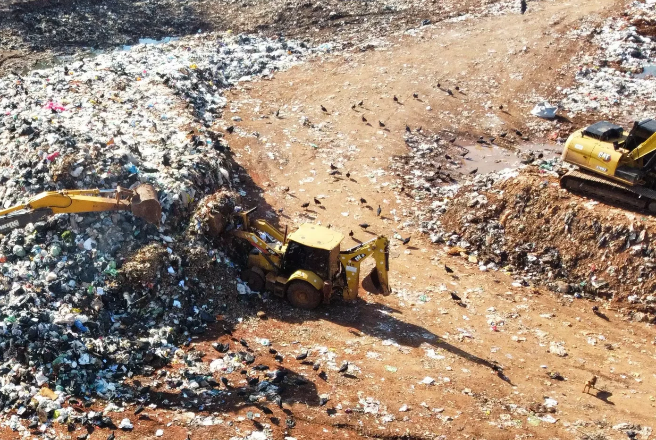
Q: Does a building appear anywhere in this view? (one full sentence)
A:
No, the photo shows no building.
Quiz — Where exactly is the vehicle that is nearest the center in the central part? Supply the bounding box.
[215,203,398,320]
